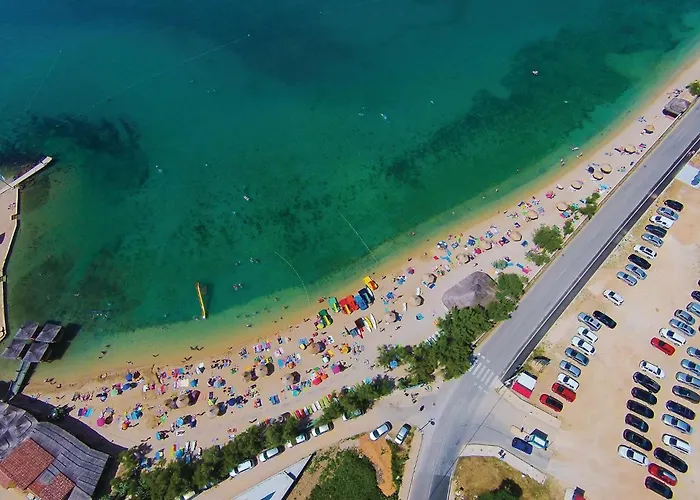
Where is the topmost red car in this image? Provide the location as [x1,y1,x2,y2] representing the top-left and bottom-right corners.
[649,338,676,356]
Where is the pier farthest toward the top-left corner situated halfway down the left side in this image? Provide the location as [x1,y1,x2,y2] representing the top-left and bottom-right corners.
[0,154,53,343]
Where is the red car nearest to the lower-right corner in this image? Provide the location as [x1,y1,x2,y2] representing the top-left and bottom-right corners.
[647,463,677,486]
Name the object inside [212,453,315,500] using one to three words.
building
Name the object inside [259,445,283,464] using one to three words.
car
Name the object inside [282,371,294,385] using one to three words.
umbrella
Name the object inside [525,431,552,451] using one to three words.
vehicle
